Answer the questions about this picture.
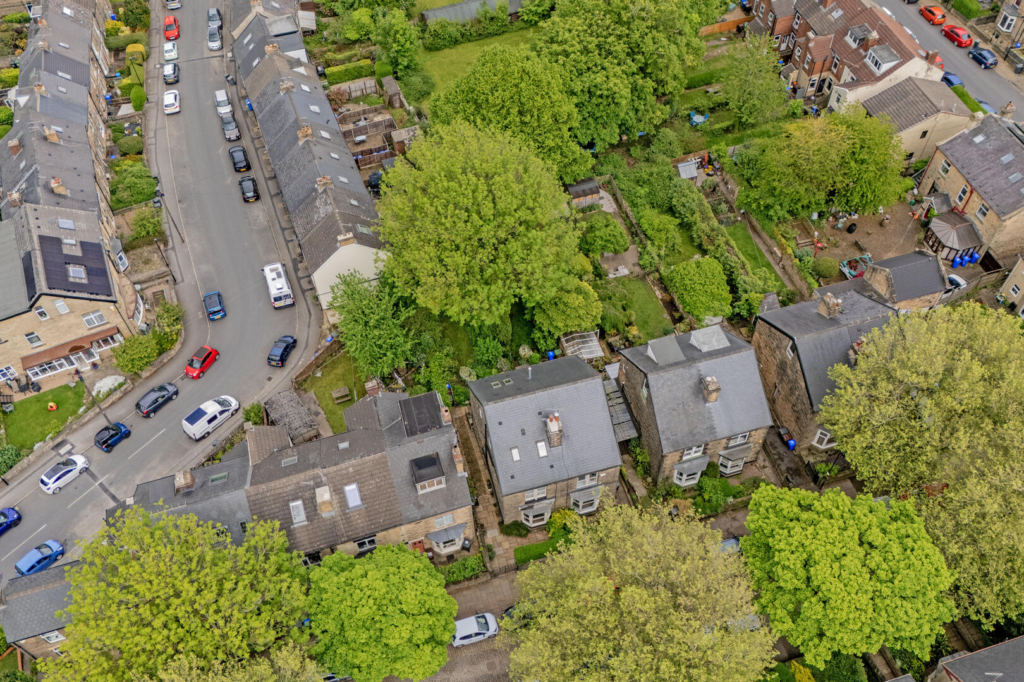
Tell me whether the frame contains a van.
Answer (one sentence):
Yes, looking at the shot, I can spot a van.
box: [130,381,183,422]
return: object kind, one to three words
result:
car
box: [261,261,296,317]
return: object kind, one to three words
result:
camper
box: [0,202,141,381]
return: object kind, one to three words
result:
house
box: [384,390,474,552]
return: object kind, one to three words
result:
house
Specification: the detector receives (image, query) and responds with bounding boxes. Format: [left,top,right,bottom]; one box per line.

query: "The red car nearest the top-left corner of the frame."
[162,15,180,40]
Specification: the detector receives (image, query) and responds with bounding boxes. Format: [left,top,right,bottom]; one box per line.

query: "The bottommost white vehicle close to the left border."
[38,456,91,495]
